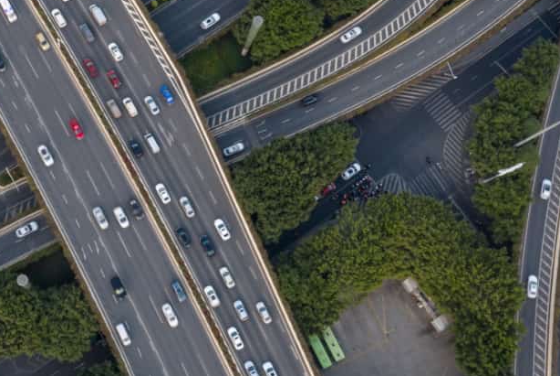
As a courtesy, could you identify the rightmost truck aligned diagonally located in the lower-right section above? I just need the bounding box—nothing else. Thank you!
[407,280,448,331]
